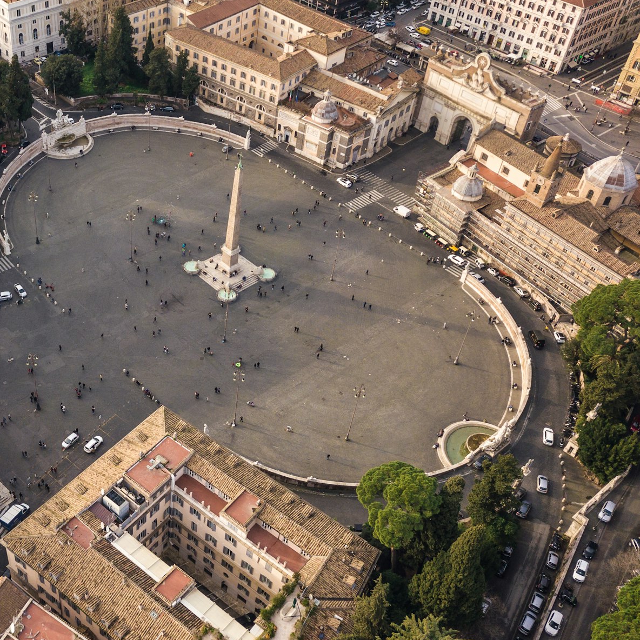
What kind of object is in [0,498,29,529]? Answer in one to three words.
truck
